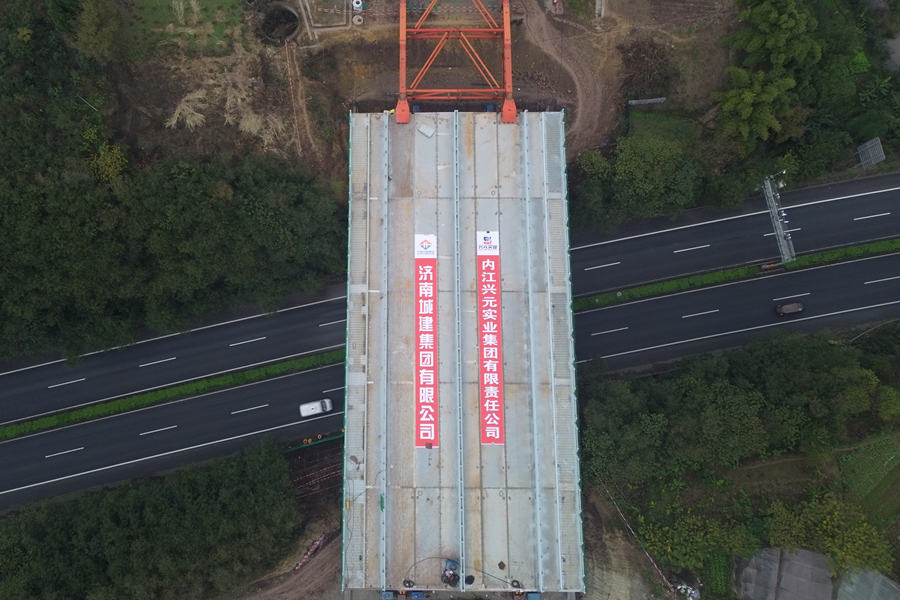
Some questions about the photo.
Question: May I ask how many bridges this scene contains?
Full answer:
The photo contains exactly 1 bridge.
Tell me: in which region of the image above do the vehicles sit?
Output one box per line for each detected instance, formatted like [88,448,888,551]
[300,400,333,416]
[774,301,802,315]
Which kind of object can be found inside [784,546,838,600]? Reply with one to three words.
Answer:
greenhouse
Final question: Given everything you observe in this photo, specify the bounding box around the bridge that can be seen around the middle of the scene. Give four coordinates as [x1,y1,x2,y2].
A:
[340,104,588,597]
